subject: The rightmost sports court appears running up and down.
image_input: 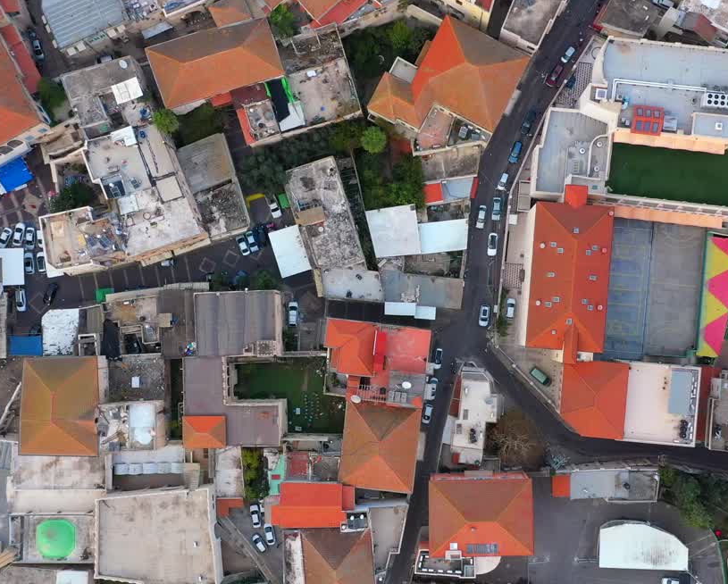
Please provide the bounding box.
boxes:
[644,221,712,361]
